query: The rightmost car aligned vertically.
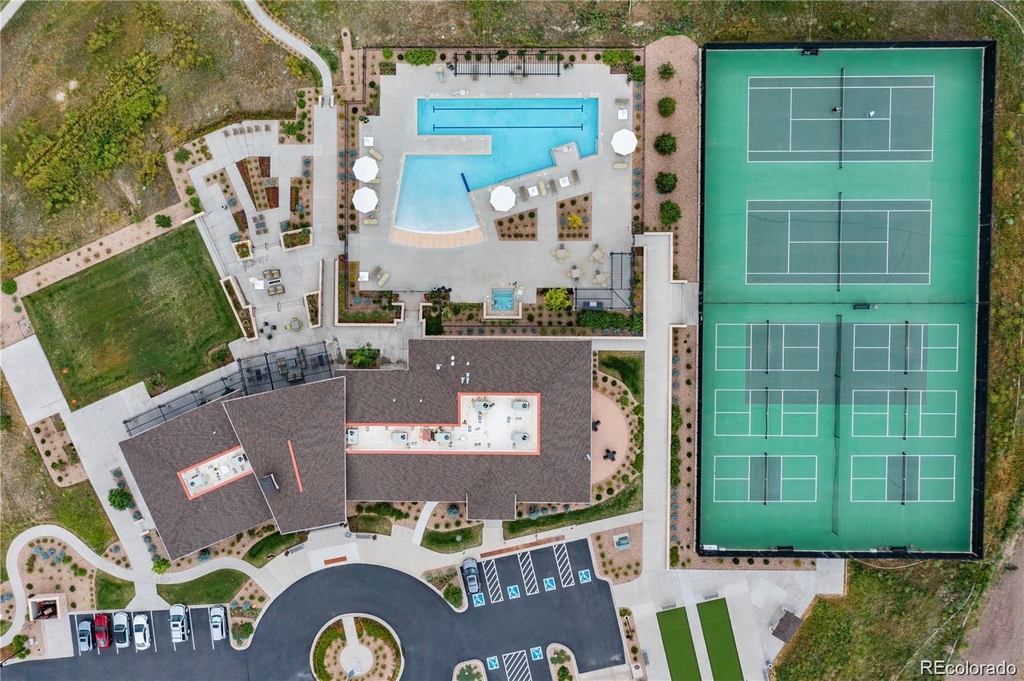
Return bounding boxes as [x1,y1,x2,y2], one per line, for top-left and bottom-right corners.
[463,557,481,595]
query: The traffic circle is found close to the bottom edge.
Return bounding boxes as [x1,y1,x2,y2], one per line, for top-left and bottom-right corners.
[310,613,405,681]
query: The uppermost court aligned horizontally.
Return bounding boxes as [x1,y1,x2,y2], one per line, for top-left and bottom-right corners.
[748,75,935,162]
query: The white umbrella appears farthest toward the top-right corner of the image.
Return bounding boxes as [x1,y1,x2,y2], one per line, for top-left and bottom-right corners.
[611,129,637,155]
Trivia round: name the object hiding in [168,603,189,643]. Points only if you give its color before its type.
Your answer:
white car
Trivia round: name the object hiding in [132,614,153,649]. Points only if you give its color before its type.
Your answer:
white car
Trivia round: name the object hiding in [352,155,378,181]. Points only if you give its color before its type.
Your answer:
white umbrella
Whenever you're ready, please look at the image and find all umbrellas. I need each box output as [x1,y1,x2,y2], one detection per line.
[611,129,637,155]
[490,186,515,211]
[352,155,378,181]
[352,187,378,213]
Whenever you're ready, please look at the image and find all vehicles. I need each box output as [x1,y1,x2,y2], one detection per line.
[208,604,229,641]
[93,613,114,648]
[112,612,133,648]
[76,620,97,652]
[463,557,481,595]
[132,614,153,649]
[168,603,189,643]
